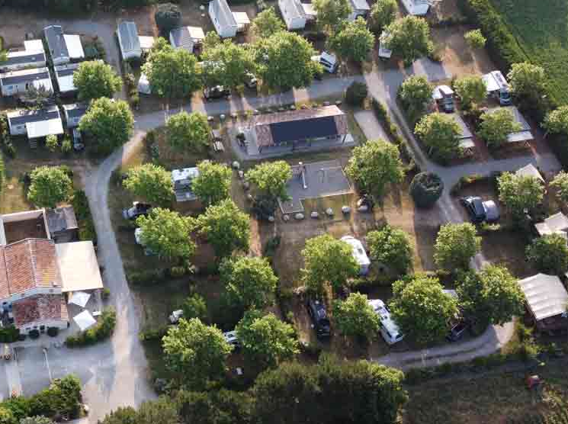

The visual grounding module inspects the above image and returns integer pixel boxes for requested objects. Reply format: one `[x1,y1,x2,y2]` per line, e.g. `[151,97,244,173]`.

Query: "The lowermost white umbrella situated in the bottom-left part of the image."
[69,308,100,335]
